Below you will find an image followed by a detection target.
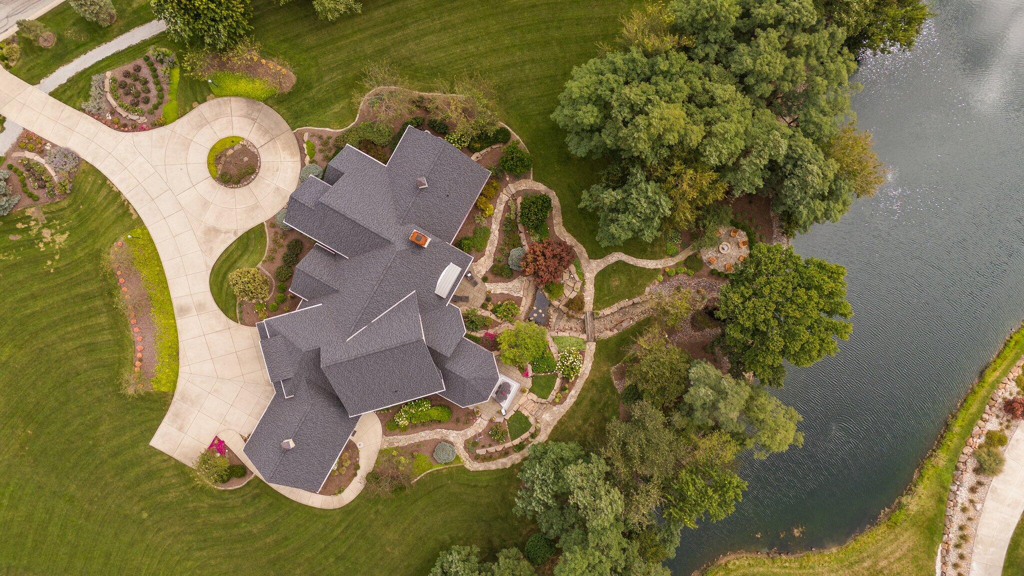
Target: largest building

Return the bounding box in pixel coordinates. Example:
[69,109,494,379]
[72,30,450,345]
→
[242,124,500,493]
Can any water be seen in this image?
Yes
